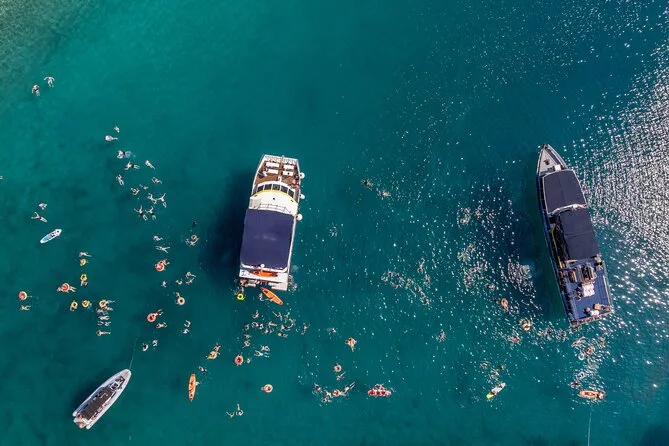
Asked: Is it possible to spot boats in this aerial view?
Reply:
Yes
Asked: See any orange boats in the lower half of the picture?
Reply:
Yes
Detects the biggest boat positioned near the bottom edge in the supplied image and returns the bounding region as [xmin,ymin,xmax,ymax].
[69,370,131,432]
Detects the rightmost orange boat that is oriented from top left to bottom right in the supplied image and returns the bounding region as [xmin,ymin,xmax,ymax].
[261,288,283,305]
